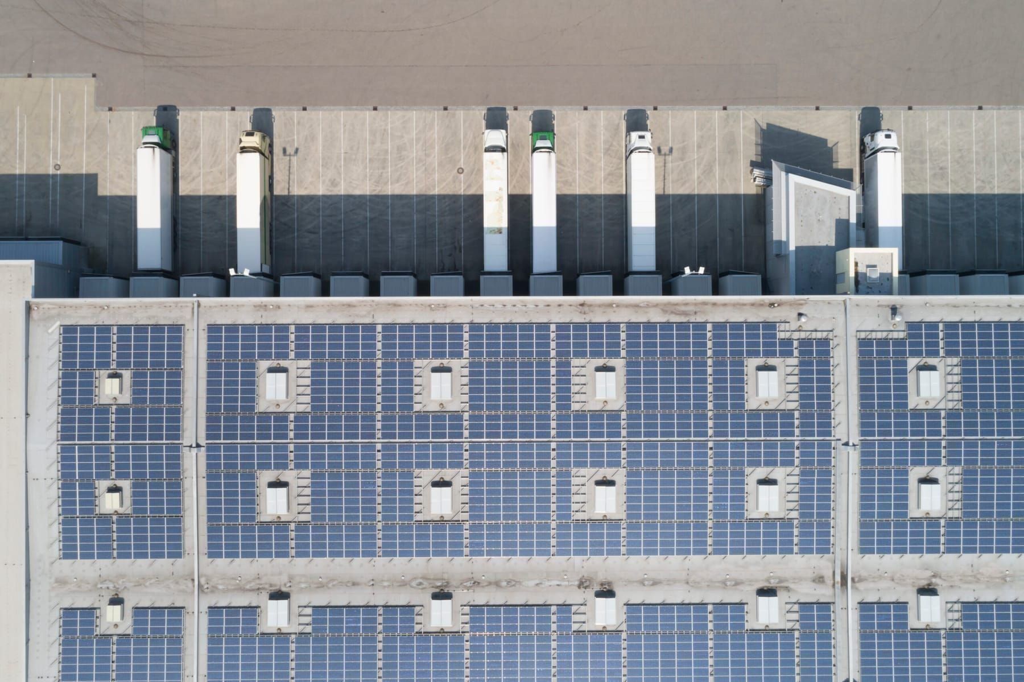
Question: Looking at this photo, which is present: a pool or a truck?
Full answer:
Visible in the photo is a truck.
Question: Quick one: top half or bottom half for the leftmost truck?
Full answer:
You can find the leftmost truck in the top half.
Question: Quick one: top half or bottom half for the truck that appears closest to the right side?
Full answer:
You can find the truck that appears closest to the right side in the top half.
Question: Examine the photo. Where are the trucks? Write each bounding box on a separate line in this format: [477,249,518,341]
[860,132,902,272]
[528,131,558,274]
[624,133,655,274]
[480,131,510,273]
[137,126,176,273]
[237,132,271,276]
